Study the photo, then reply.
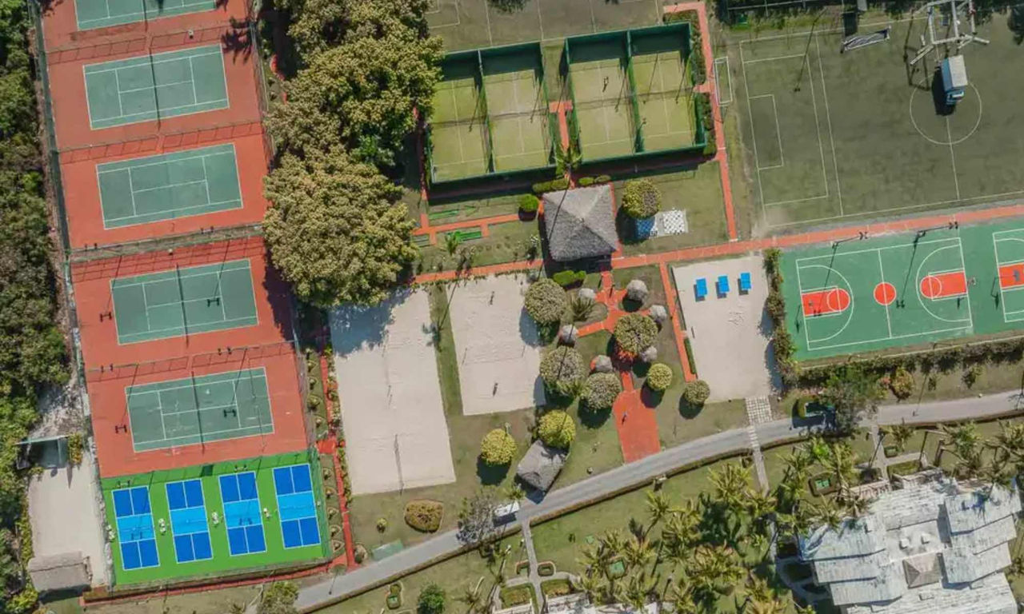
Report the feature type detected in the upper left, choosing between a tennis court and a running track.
tennis court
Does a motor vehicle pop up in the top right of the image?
Yes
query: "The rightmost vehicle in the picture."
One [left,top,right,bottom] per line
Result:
[939,55,967,103]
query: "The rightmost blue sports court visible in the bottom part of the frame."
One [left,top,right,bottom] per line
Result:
[274,464,320,549]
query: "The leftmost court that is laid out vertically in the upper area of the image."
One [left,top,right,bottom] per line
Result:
[428,60,493,180]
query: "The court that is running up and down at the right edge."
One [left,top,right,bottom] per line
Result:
[992,229,1024,322]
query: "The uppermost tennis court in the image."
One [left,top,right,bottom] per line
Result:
[74,0,217,30]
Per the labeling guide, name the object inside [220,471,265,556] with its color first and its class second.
blue sports court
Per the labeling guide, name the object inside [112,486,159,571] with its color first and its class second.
blue sports court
